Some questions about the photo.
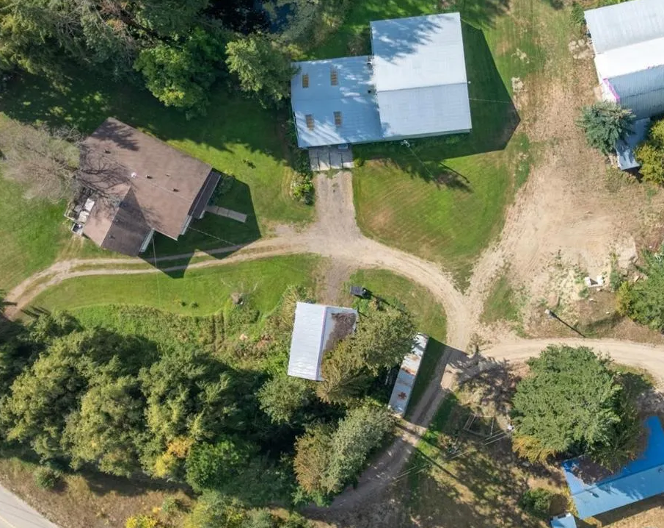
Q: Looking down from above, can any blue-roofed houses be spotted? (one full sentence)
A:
Yes, a blue-roofed house can be made out from above.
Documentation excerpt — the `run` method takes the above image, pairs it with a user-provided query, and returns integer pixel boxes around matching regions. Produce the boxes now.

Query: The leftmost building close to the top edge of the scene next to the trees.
[291,13,471,148]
